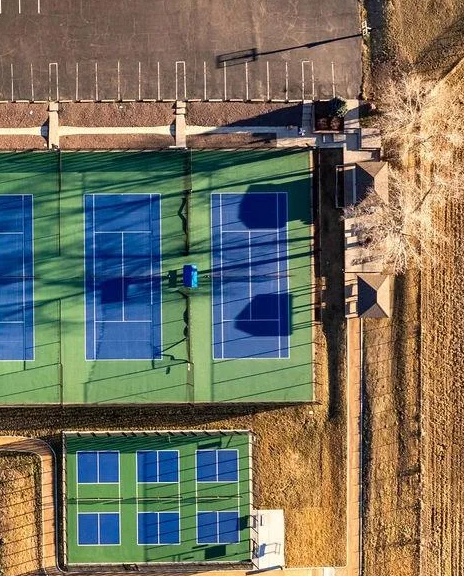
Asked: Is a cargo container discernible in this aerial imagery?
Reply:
No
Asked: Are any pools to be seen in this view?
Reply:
No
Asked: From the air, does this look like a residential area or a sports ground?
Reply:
sports ground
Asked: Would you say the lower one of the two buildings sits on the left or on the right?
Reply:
right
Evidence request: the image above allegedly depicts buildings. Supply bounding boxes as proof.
[353,274,390,318]
[328,161,388,208]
